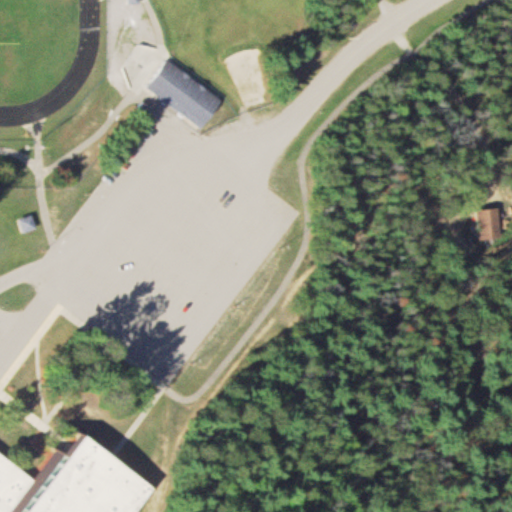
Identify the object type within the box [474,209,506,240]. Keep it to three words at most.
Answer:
house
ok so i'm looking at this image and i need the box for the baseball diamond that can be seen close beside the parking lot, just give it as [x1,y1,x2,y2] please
[224,48,266,108]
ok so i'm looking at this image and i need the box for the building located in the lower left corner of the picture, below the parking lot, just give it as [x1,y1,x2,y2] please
[0,434,156,512]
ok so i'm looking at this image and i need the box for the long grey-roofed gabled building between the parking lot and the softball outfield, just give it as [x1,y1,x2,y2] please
[148,61,221,130]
